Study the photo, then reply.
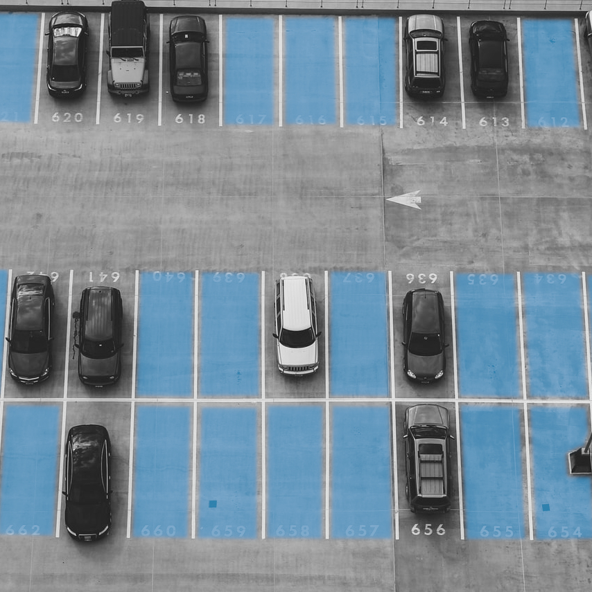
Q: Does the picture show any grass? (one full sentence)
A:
No, no grass is visible.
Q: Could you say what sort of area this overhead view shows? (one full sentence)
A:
The picture captures a parking lot.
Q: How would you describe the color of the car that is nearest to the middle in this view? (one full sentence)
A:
In this view, the car that is nearest to the middle is white.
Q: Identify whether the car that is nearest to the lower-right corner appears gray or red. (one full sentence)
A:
From above, the car that is nearest to the lower-right corner appears gray.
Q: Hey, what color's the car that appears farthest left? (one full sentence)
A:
In this view, the car that appears farthest left is black.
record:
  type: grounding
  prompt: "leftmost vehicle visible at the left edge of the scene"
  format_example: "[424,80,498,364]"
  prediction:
[2,277,58,384]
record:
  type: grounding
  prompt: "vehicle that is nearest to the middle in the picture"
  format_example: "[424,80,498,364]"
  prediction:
[269,276,325,378]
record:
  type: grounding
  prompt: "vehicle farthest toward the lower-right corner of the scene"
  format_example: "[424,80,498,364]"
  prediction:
[402,404,456,512]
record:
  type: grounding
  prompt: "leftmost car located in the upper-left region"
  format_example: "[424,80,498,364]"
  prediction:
[43,14,92,98]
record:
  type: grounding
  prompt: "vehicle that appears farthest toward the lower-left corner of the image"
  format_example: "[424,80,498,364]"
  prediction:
[58,425,116,542]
